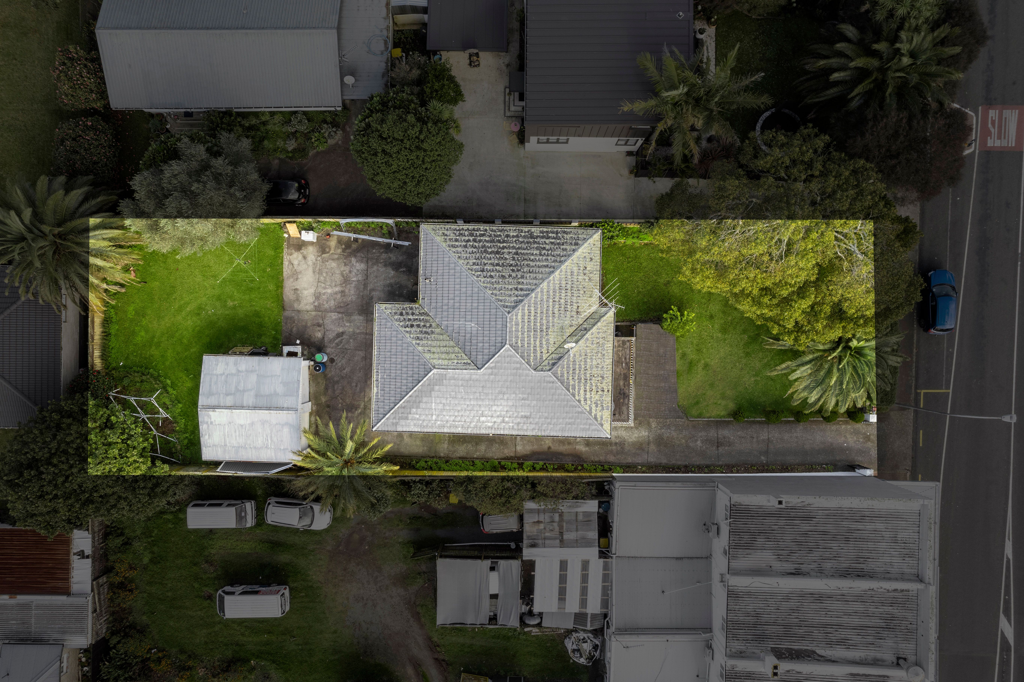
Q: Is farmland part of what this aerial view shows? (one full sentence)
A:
No, no farmland is visible.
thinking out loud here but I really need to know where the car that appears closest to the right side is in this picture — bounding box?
[917,270,958,335]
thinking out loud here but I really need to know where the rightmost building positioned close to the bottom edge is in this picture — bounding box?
[601,472,943,682]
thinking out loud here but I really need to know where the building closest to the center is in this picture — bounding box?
[370,221,617,440]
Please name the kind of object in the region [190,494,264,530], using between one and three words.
van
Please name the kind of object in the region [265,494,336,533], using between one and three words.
car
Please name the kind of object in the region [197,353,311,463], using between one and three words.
building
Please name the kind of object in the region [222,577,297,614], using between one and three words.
van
